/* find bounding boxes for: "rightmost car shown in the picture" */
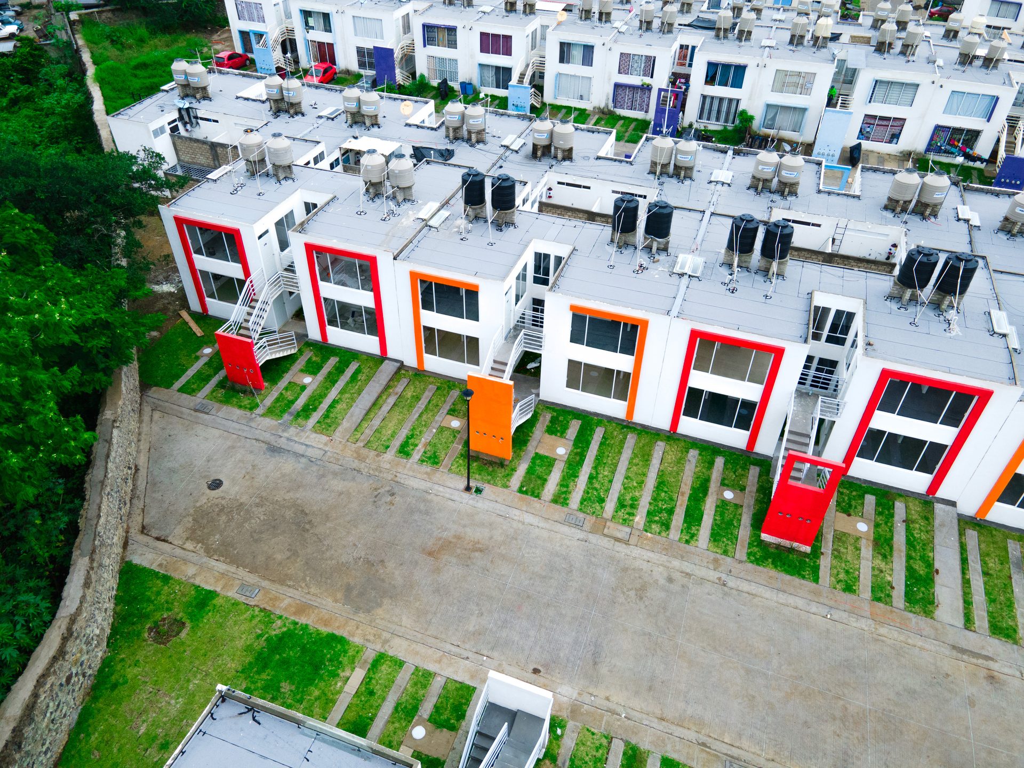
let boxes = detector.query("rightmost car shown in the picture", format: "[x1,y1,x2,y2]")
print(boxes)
[923,4,951,19]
